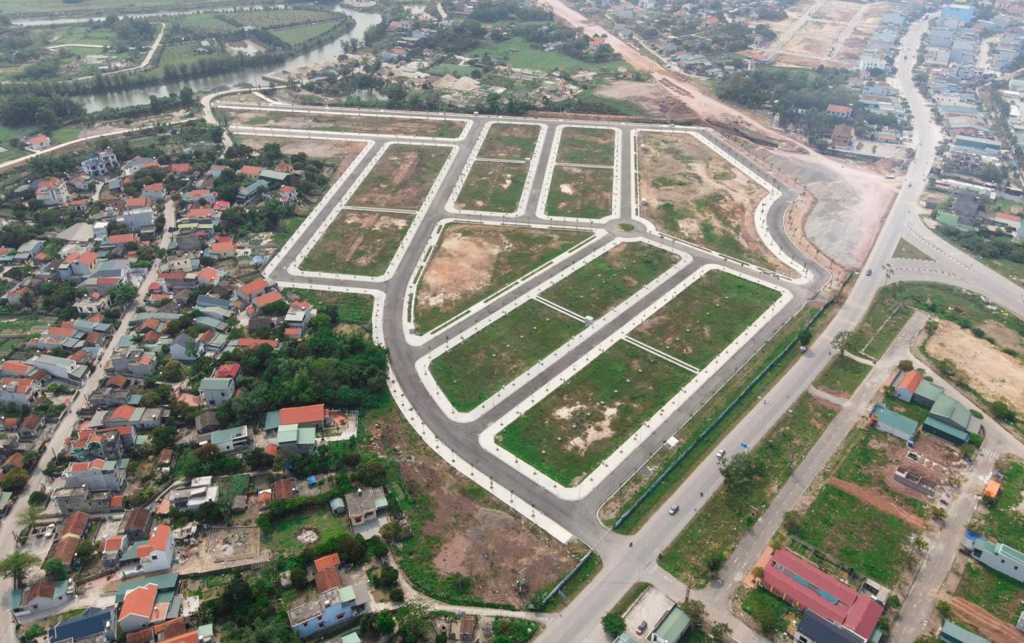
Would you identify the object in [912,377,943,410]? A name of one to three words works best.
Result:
shed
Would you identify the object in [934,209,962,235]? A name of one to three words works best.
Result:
shed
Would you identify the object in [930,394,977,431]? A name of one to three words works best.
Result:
house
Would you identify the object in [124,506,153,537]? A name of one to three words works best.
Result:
house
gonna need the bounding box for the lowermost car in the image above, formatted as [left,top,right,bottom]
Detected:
[632,617,650,636]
